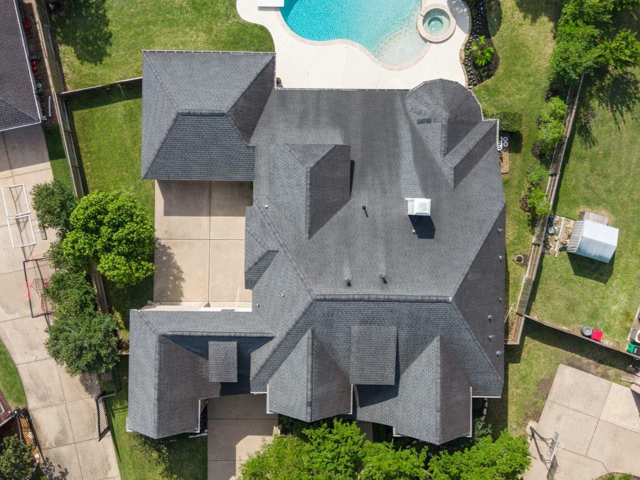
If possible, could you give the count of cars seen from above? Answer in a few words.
0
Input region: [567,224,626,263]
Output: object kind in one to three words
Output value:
shed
